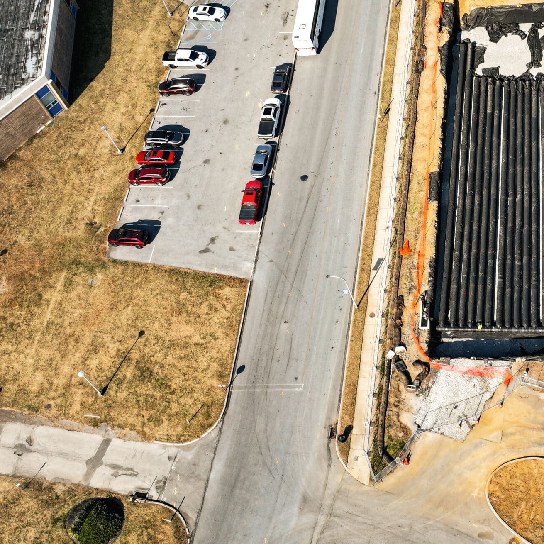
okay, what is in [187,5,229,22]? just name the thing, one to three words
car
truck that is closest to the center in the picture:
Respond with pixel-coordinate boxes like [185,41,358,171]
[237,179,265,225]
